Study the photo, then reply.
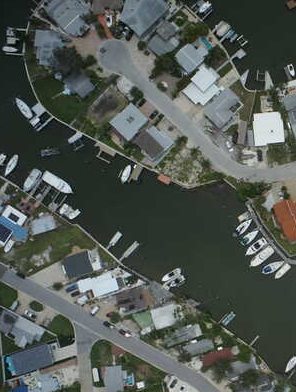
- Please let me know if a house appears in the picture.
Yes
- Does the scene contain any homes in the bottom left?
Yes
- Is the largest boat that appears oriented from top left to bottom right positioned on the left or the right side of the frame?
left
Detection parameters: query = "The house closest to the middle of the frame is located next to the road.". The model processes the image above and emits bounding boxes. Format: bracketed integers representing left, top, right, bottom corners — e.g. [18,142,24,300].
[135,125,176,164]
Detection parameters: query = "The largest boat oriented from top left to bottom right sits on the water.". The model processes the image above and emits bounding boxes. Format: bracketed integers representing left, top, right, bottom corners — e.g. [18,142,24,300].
[40,169,73,193]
